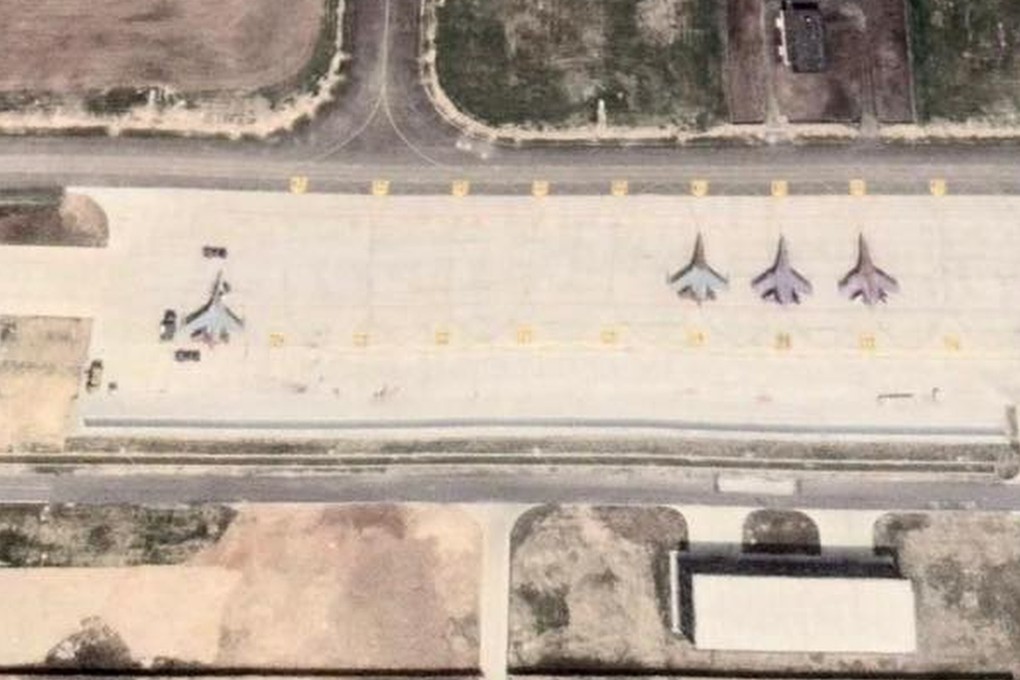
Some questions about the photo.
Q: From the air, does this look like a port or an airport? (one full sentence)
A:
The picture captures an airport.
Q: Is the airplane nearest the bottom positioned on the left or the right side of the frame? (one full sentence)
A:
It is on the left.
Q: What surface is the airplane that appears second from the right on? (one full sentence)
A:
In this view, the airplane that appears second from the right is located on the apron.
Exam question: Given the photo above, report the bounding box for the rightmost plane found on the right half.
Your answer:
[840,237,899,307]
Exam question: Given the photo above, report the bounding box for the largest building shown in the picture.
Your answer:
[693,573,915,651]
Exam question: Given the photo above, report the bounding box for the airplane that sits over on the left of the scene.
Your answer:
[180,276,242,349]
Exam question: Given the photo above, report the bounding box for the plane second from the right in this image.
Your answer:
[754,235,813,308]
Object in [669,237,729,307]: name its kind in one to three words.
airplane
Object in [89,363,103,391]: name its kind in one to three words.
vehicle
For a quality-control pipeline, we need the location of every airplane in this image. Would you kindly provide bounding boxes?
[754,235,813,308]
[180,276,242,349]
[840,237,899,307]
[669,237,729,307]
